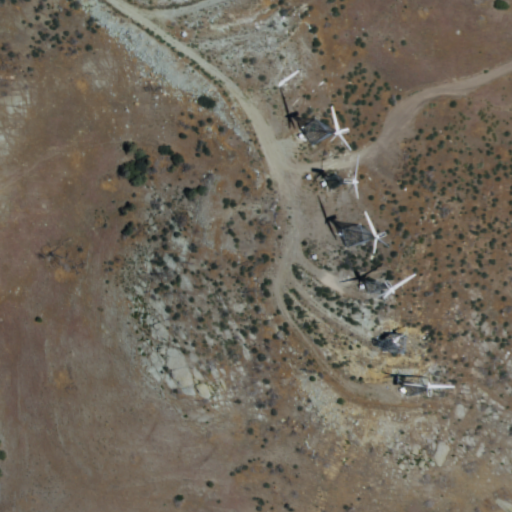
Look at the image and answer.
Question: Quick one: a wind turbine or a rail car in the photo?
wind turbine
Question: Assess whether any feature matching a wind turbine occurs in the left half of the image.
No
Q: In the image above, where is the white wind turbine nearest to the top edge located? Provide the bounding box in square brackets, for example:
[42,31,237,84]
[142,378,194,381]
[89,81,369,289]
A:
[302,106,349,150]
